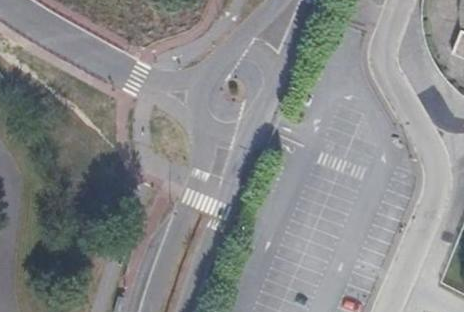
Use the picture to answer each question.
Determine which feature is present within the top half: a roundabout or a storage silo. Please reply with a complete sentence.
It is a roundabout that can be seen within the top half.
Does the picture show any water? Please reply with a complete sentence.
No, the picture contains no water.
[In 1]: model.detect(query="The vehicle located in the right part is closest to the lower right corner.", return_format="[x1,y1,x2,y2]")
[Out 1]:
[342,298,363,312]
